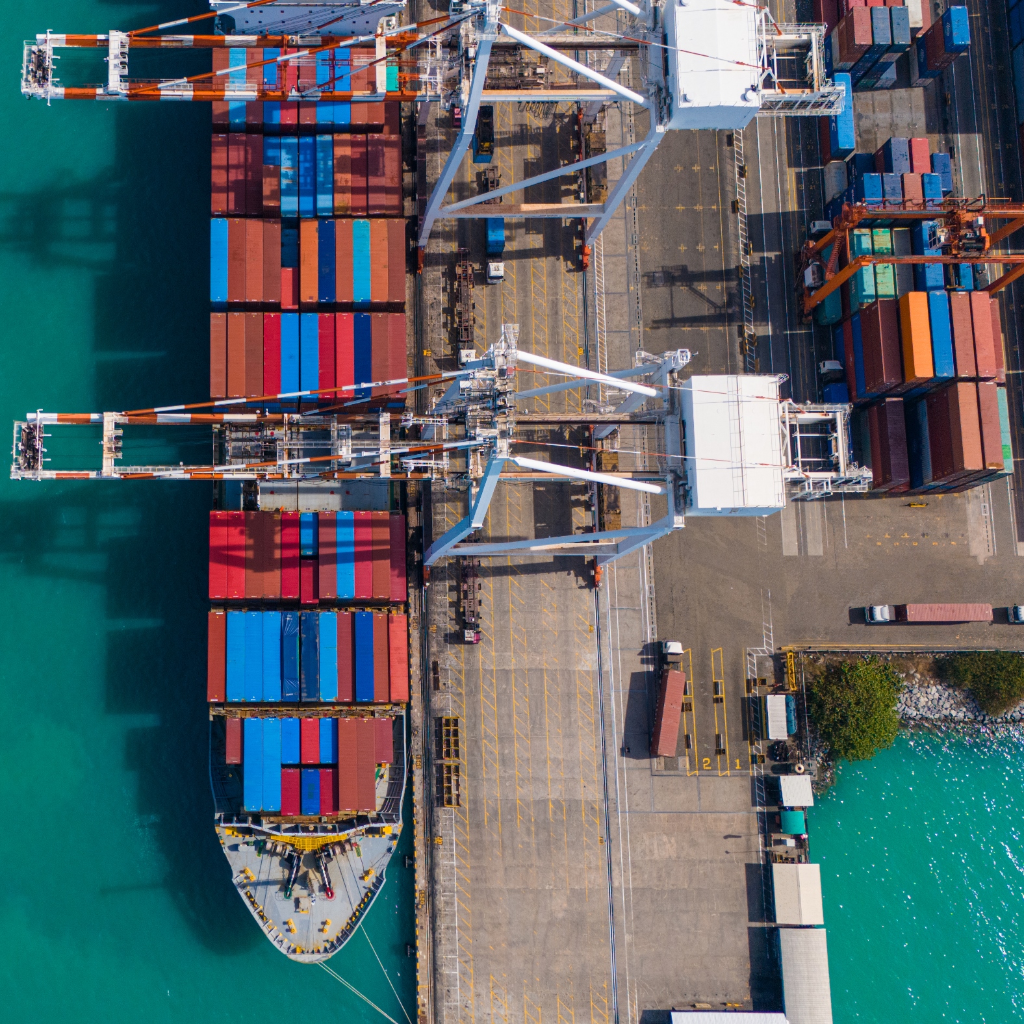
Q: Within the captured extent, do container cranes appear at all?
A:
Yes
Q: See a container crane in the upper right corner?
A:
Yes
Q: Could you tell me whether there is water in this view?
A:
Yes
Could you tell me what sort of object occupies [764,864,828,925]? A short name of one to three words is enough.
shed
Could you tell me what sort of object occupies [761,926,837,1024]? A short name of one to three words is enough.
shed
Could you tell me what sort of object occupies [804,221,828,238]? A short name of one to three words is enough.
vehicle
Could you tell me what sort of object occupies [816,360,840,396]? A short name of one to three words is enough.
truck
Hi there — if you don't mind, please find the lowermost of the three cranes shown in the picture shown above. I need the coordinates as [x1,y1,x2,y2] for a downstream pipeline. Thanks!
[9,316,883,590]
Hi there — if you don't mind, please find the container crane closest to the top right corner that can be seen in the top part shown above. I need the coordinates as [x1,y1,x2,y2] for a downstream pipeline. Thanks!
[800,187,1024,323]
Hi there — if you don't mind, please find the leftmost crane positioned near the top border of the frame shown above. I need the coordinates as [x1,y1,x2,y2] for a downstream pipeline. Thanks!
[22,0,853,269]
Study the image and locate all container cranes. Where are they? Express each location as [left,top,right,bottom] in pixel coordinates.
[9,316,883,590]
[800,187,1024,323]
[22,0,853,269]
